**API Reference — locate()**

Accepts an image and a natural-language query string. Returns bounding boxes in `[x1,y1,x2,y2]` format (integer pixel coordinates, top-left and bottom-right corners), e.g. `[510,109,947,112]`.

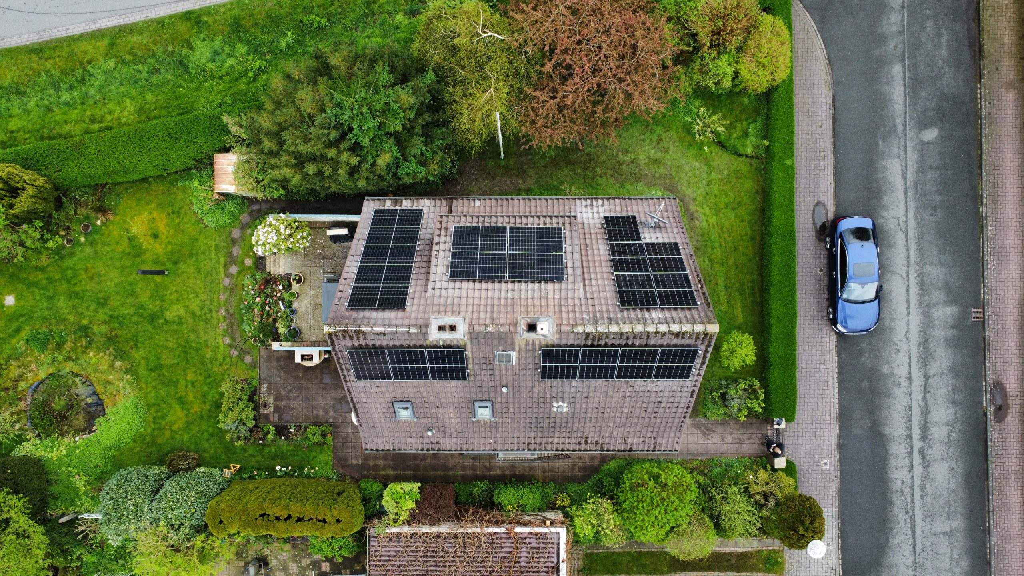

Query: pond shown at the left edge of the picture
[16,365,110,445]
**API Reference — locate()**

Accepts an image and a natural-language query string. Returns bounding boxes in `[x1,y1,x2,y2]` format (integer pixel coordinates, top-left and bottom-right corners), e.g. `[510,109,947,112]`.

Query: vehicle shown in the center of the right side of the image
[823,216,885,336]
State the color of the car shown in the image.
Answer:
blue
